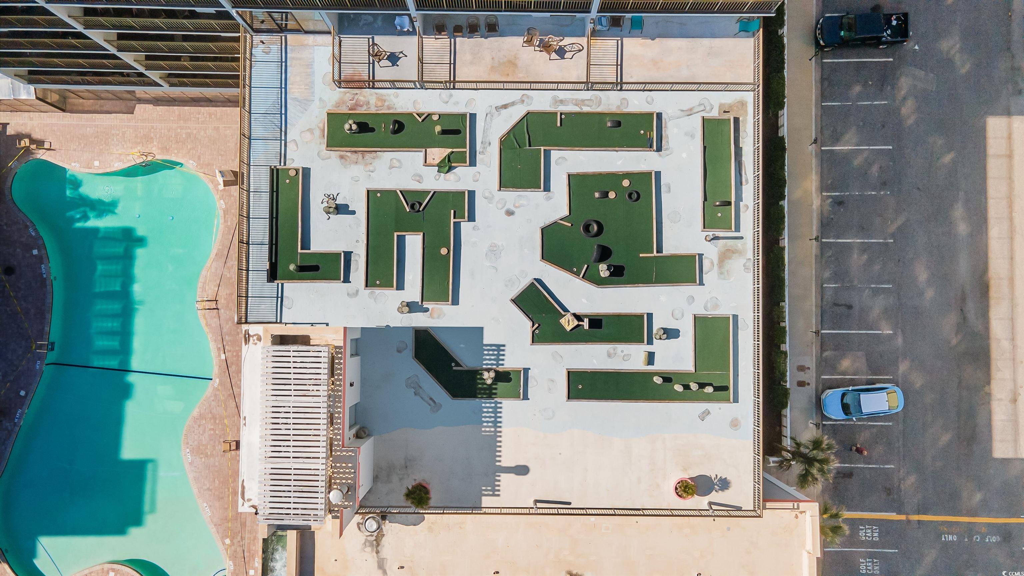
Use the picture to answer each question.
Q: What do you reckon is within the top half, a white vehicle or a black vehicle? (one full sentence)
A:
You can see a black vehicle within the top half.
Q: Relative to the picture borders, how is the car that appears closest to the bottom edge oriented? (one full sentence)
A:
What the image shows is the car that appears closest to the bottom edge lying from left to right.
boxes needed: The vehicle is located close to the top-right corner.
[811,8,910,50]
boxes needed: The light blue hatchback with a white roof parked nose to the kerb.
[820,382,905,420]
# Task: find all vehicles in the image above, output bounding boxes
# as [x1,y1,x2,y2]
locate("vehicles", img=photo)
[811,8,910,50]
[820,382,905,420]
